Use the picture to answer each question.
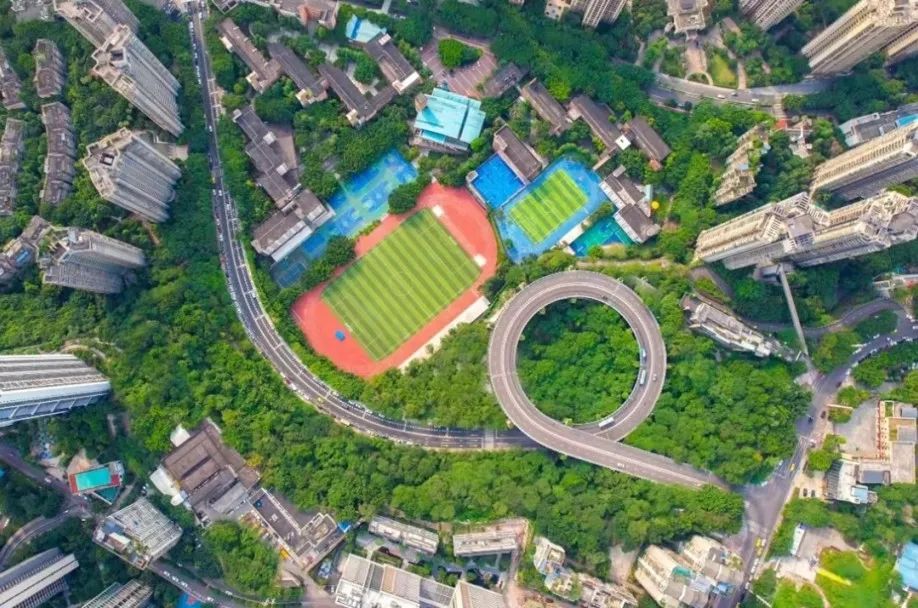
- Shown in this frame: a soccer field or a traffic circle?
soccer field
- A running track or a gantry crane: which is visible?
running track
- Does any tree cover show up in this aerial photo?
Yes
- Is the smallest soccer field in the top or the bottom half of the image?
top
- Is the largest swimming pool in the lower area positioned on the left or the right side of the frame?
left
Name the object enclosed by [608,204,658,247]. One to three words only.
building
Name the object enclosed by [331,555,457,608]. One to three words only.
building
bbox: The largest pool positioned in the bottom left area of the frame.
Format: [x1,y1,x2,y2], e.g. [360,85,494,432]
[76,468,111,490]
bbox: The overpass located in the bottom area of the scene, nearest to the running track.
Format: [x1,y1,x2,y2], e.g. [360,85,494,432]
[488,271,759,511]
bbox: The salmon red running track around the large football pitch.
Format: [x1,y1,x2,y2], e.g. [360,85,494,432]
[292,181,497,377]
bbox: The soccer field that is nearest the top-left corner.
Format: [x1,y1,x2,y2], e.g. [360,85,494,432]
[321,208,481,360]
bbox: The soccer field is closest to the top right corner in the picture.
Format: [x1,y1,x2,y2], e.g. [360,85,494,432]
[507,168,588,245]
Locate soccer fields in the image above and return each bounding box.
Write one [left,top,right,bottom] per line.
[507,168,588,245]
[321,208,481,360]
